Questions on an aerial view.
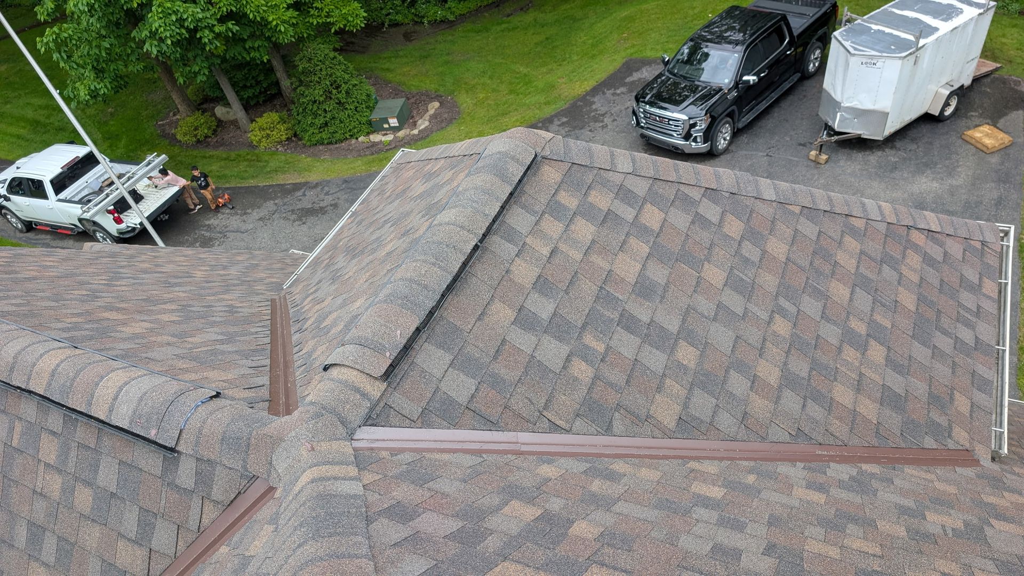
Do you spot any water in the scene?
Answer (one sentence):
No, there is no water in the image.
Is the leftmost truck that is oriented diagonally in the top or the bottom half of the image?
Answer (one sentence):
The leftmost truck that is oriented diagonally sits in the top half of the picture.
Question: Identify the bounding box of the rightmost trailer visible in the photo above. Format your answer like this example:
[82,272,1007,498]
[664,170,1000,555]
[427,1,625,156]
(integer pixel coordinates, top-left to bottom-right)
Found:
[811,0,1014,157]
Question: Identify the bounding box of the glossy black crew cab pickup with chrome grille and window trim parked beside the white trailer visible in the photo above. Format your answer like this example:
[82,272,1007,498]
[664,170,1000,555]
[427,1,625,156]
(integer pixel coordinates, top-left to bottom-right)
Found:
[635,0,838,151]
